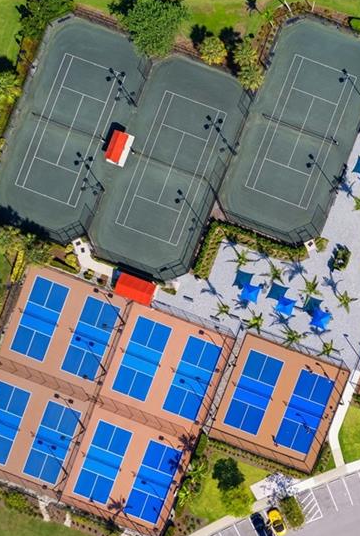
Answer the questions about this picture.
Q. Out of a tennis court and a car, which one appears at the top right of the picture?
tennis court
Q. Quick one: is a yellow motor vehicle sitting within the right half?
Yes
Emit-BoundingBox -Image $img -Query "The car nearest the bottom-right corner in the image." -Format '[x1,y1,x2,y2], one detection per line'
[269,509,286,536]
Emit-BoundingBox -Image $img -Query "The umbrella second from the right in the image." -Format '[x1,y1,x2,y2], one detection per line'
[275,294,297,317]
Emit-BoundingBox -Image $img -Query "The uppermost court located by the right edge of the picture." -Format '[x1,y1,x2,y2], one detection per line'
[217,16,360,243]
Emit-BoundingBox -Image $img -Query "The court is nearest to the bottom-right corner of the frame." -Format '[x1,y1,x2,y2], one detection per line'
[274,369,334,455]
